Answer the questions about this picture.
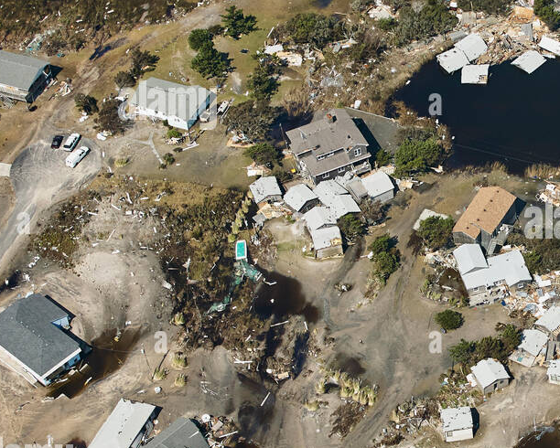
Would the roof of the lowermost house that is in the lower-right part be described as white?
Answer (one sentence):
Yes, the roof of the lowermost house that is in the lower-right part is white.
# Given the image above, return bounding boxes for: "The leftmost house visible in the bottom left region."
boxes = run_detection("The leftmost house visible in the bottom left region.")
[0,294,89,393]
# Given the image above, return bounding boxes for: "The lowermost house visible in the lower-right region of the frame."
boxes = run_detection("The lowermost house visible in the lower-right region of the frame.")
[443,405,474,441]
